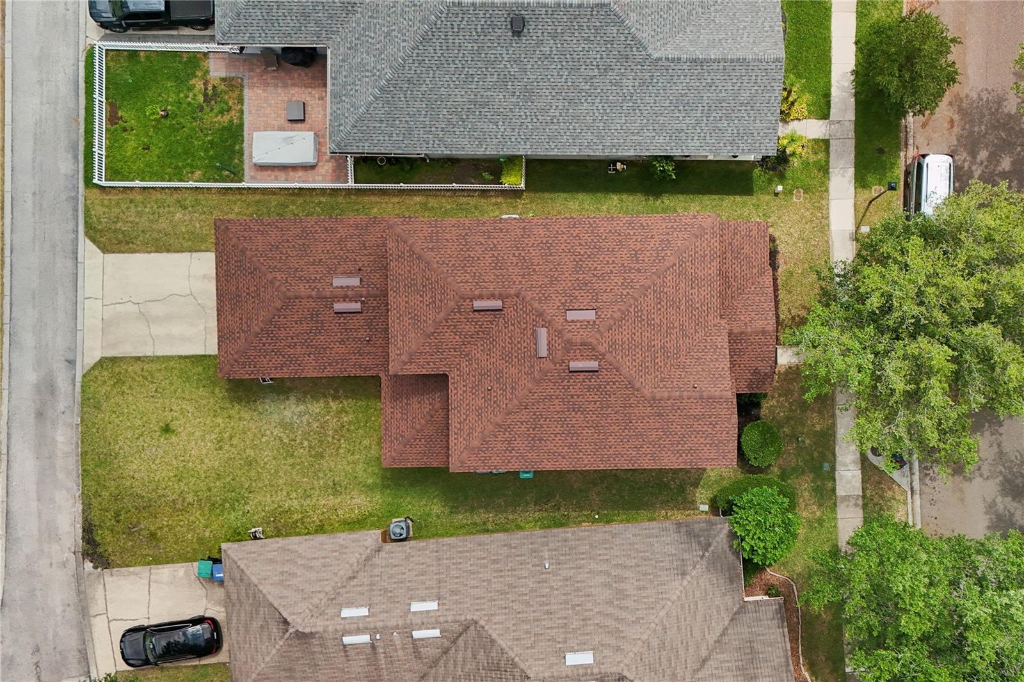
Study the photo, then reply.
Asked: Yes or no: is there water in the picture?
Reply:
No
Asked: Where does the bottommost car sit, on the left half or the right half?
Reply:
left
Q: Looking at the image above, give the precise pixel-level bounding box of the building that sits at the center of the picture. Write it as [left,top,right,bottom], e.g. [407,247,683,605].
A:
[215,215,778,472]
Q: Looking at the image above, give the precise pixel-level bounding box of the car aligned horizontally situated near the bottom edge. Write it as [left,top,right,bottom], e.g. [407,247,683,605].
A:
[117,616,220,673]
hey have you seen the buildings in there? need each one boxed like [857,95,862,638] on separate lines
[215,0,785,166]
[215,215,778,472]
[222,506,800,682]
